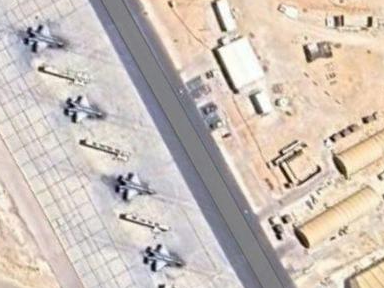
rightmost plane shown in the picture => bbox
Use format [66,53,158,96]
[145,244,185,270]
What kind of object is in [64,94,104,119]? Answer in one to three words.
airplane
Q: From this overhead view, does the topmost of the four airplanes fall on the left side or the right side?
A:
left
